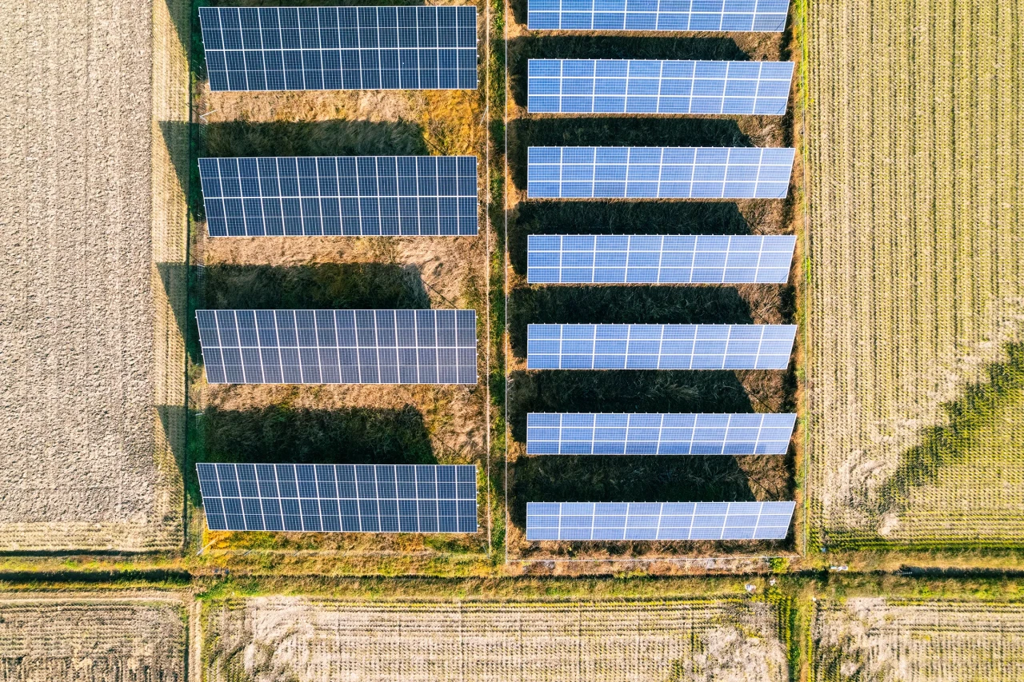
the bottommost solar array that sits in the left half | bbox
[198,462,479,532]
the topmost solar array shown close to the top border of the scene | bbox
[527,0,791,32]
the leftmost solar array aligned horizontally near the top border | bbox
[198,6,481,91]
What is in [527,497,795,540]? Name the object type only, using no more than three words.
solar array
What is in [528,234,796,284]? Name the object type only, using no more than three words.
solar array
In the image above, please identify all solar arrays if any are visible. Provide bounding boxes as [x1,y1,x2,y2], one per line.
[198,6,481,91]
[527,0,791,32]
[528,411,796,455]
[528,57,796,115]
[528,145,796,198]
[198,157,480,236]
[196,311,479,384]
[528,323,796,369]
[198,462,479,532]
[528,234,796,284]
[527,497,795,540]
